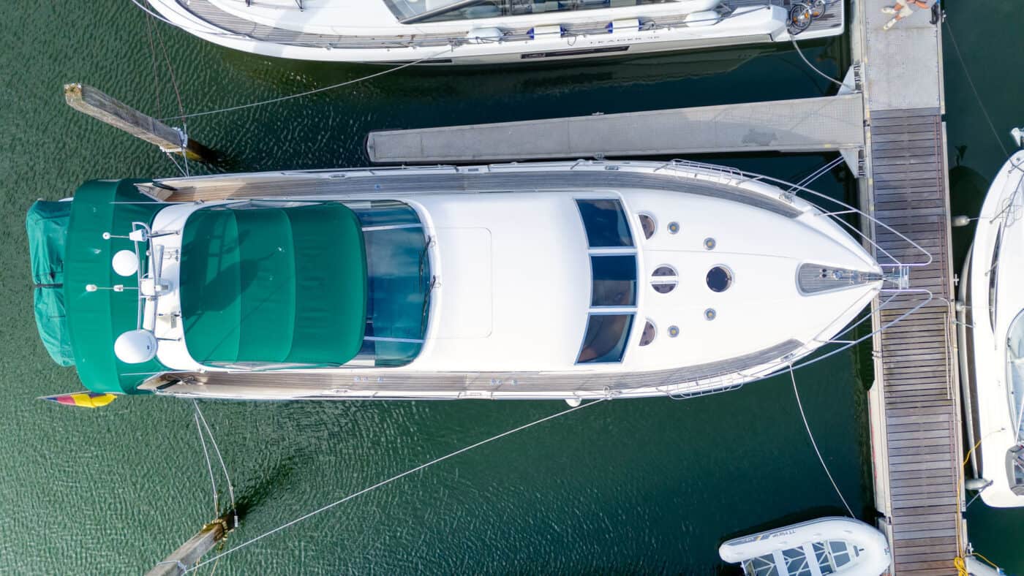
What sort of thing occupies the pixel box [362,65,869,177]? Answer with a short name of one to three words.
pier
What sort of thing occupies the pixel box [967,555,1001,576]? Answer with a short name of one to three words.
pier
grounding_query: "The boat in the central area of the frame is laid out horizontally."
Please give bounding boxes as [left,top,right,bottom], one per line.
[36,158,934,408]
